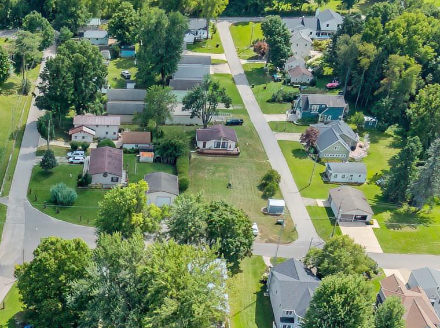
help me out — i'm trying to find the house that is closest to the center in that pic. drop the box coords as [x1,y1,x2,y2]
[195,126,241,158]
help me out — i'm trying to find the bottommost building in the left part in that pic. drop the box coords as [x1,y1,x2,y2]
[144,170,180,205]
